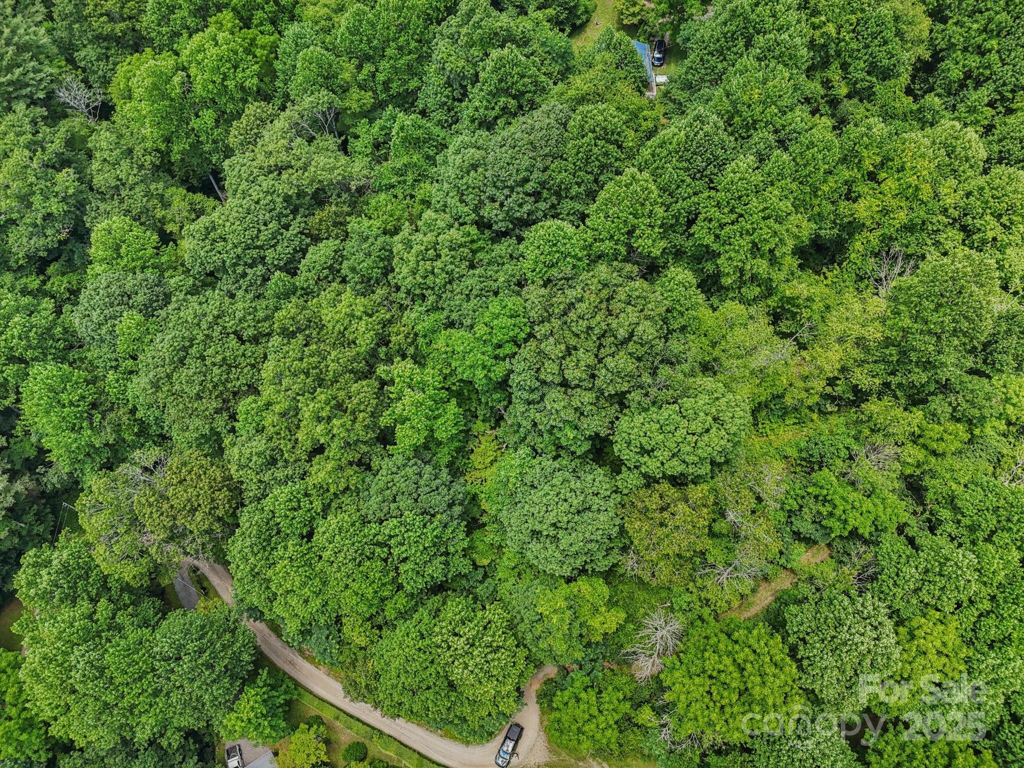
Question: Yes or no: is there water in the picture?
No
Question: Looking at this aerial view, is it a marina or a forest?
forest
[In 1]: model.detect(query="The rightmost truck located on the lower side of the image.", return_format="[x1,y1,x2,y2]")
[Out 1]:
[494,720,524,768]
